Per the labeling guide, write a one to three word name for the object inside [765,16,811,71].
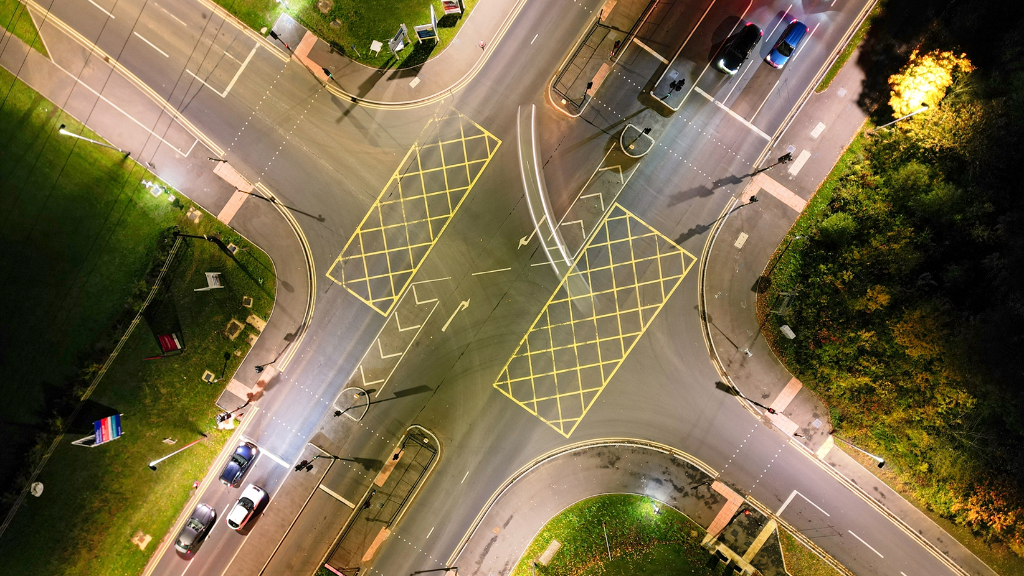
car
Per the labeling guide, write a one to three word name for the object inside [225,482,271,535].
car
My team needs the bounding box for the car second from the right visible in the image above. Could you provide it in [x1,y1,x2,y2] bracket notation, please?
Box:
[716,19,765,78]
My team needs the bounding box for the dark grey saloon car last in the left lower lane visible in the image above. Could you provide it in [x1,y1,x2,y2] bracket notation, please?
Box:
[170,500,220,560]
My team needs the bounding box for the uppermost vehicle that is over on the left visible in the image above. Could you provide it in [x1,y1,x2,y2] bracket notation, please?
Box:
[218,437,263,490]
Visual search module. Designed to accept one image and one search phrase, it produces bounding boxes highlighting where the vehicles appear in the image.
[716,19,765,78]
[170,500,220,560]
[765,16,811,71]
[225,482,271,535]
[218,437,263,490]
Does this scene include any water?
No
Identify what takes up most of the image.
paved ground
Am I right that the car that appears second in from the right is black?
Yes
